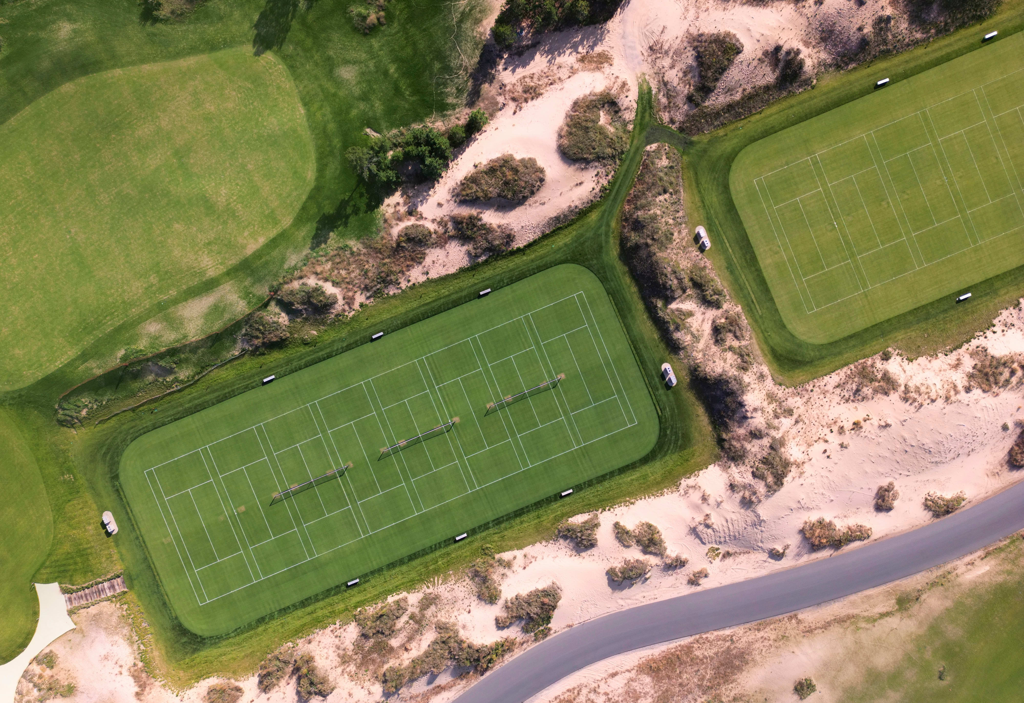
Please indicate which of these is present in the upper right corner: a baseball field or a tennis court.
tennis court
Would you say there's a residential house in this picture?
No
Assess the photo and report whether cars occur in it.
No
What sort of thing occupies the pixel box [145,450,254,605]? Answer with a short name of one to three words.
tennis court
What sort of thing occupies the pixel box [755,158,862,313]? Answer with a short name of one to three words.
tennis court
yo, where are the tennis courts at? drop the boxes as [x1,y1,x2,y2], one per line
[521,291,637,449]
[755,158,862,313]
[467,317,575,471]
[306,383,414,538]
[359,361,468,516]
[862,113,970,269]
[916,91,1023,247]
[413,339,522,494]
[252,405,361,561]
[808,136,916,291]
[145,450,254,605]
[198,428,307,583]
